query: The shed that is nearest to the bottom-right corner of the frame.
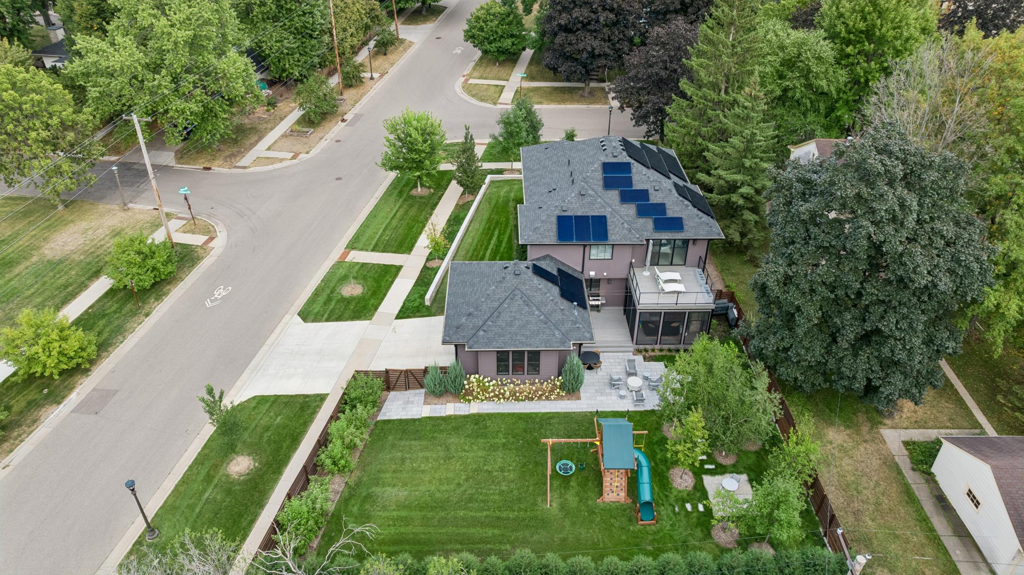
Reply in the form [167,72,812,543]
[931,430,1024,575]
